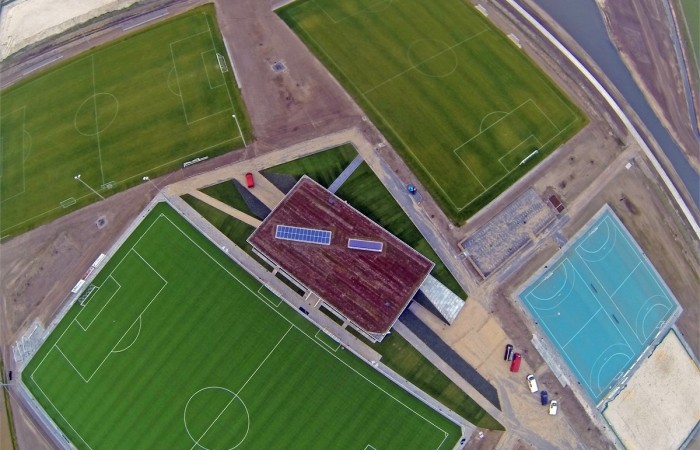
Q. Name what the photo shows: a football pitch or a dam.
football pitch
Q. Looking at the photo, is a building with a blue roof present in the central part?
No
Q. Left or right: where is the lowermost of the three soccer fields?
left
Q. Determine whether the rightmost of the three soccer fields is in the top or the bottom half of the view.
top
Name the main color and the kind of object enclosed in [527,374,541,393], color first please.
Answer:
white vehicle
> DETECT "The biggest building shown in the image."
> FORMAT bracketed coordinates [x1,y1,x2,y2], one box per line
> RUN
[247,175,435,344]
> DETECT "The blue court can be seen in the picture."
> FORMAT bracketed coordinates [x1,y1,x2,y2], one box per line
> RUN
[515,202,683,412]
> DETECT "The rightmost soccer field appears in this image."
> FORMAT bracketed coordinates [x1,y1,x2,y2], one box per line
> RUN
[274,0,589,225]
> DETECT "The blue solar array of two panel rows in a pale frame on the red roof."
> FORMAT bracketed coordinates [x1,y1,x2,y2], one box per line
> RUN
[275,225,332,245]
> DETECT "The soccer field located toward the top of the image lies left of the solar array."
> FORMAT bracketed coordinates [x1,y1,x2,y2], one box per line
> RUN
[0,3,253,243]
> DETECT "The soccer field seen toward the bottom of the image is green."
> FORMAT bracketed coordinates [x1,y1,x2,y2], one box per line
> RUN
[21,201,462,450]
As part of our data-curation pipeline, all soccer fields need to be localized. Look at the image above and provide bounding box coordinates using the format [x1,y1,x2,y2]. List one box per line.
[21,201,462,450]
[274,0,589,225]
[0,3,253,243]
